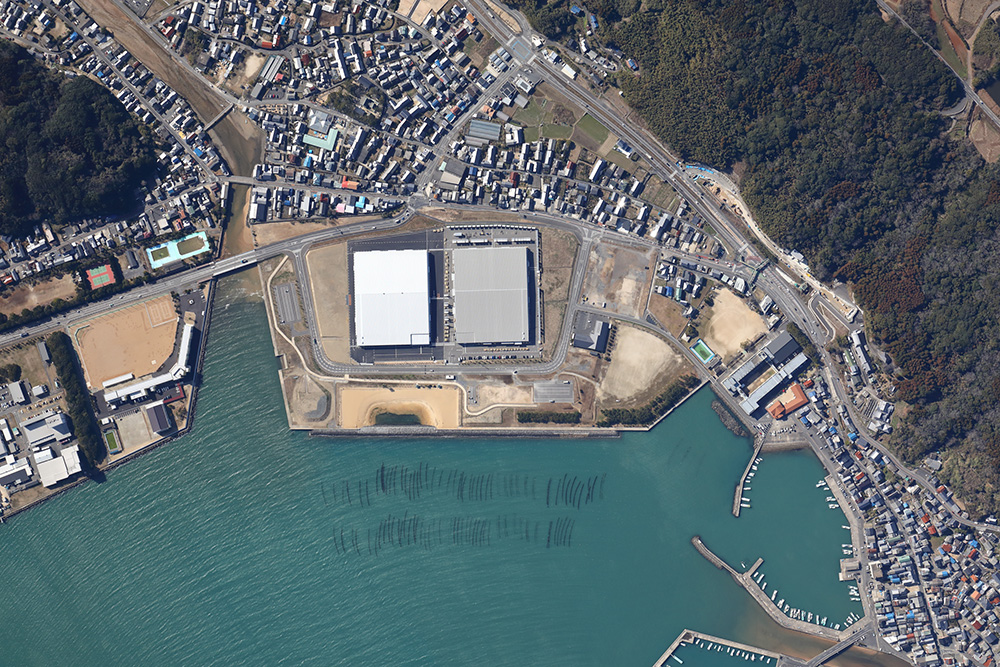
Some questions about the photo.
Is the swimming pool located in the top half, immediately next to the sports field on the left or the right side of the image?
left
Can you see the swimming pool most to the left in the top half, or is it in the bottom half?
bottom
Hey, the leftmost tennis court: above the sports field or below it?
above it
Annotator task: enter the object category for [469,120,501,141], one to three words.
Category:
greenhouse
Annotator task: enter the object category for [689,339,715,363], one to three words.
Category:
swimming pool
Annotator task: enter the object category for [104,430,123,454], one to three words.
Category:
swimming pool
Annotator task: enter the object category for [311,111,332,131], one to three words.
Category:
building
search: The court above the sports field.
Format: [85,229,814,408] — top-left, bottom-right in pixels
[86,264,115,286]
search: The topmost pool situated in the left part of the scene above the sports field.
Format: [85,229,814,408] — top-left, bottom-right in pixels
[146,231,211,269]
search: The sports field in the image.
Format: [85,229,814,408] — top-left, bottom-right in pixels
[70,294,178,389]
